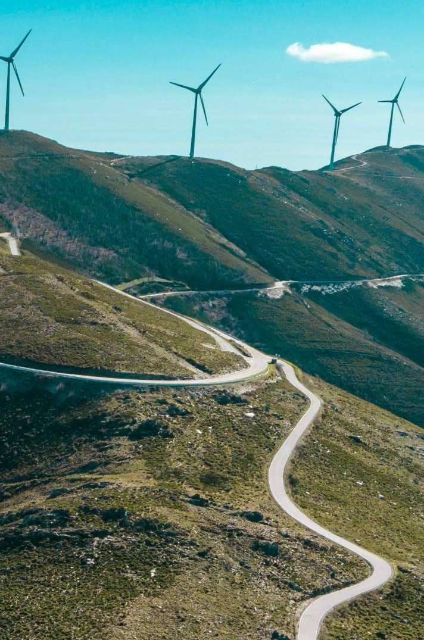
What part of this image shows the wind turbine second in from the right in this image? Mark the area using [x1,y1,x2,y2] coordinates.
[317,96,362,169]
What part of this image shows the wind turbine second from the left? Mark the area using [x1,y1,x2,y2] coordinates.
[164,61,219,161]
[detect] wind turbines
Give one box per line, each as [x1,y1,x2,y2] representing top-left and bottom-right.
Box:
[317,96,362,169]
[164,61,219,161]
[0,23,30,132]
[370,76,404,146]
